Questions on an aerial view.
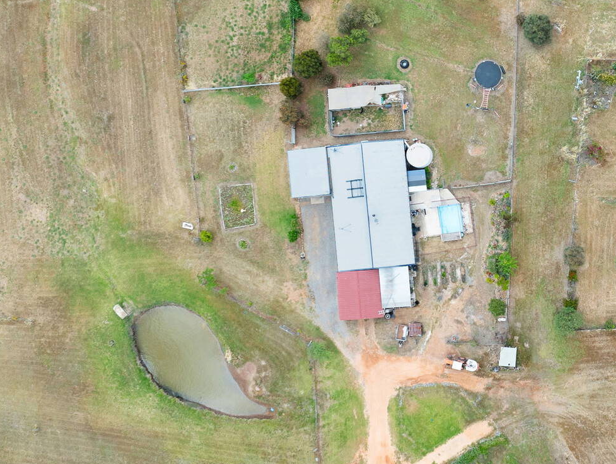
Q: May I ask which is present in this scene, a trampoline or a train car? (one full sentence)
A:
There is a trampoline in the scene.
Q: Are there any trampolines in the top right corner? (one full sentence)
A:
Yes, you'll find a trampoline in the top right corner.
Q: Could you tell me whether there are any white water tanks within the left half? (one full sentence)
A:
No, there is no white water tank within the left half.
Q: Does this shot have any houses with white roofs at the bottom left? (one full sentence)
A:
No, I can find no house with a white roof at the bottom left.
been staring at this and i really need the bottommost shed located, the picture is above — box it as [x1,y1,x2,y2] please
[499,346,517,367]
